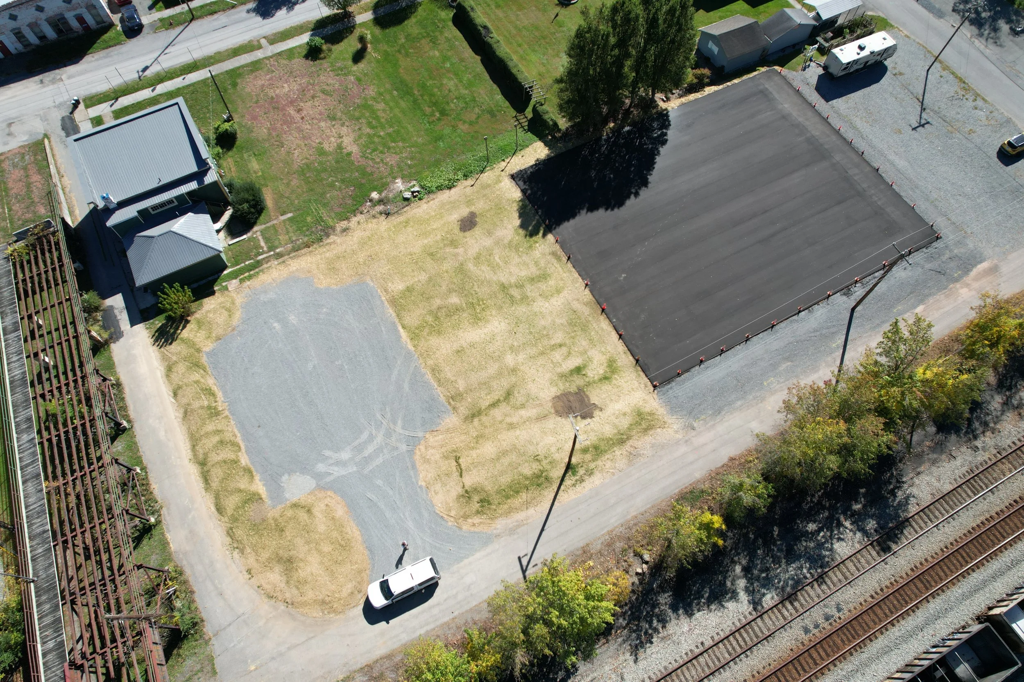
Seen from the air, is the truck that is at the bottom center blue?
No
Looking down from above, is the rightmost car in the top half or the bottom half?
top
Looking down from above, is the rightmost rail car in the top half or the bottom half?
bottom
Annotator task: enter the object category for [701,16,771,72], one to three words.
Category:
shed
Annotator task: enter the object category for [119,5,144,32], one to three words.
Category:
car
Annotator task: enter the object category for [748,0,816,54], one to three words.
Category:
shed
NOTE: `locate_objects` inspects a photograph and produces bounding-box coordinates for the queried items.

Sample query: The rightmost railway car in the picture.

[980,580,1024,653]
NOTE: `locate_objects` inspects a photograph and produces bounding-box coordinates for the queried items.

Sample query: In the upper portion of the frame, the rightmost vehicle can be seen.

[994,123,1024,152]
